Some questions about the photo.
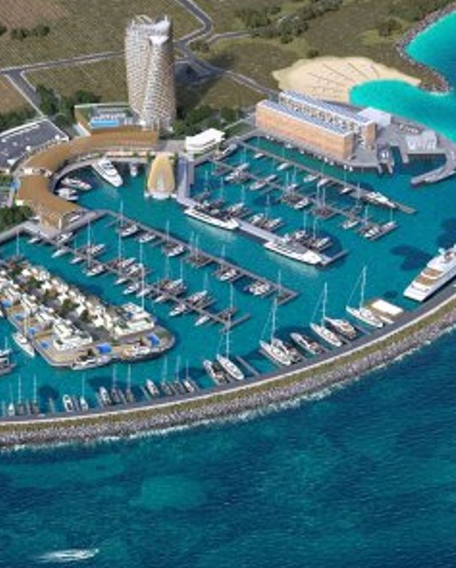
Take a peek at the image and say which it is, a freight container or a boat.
boat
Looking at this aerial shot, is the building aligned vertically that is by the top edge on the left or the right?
left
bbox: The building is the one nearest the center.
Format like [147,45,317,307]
[113,304,156,333]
